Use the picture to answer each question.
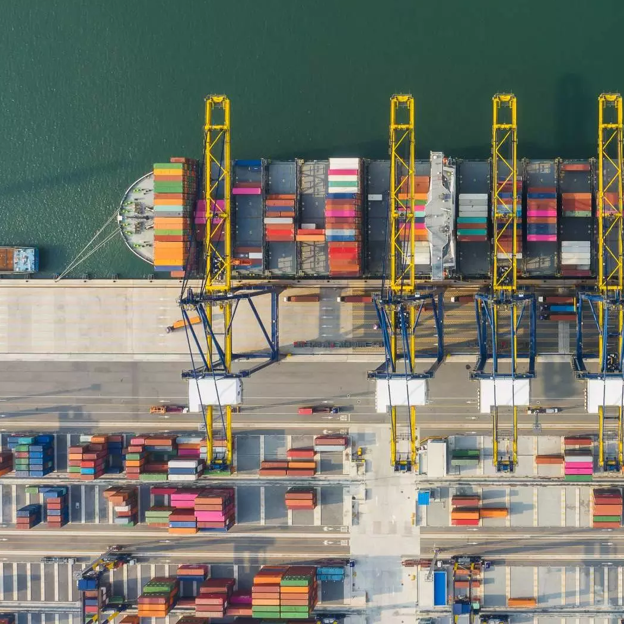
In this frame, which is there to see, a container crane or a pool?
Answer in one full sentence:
The image shows a container crane.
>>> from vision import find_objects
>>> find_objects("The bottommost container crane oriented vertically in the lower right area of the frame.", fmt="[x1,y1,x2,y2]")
[450,557,479,624]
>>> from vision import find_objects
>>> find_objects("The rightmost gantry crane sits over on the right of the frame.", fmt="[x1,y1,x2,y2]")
[557,91,624,468]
